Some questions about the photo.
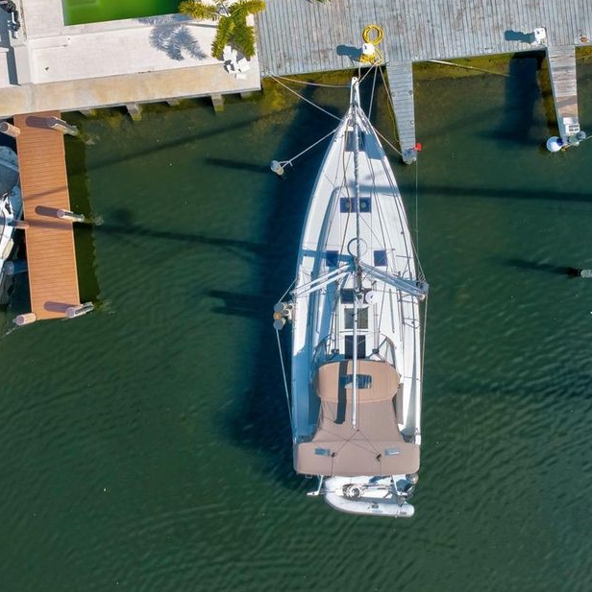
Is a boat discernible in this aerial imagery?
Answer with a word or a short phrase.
Yes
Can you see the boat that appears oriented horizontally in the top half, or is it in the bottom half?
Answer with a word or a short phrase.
bottom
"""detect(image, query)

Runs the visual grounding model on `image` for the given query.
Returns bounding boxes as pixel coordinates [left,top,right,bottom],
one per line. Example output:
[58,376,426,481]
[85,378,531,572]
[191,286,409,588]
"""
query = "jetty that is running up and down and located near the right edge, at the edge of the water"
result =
[545,43,580,138]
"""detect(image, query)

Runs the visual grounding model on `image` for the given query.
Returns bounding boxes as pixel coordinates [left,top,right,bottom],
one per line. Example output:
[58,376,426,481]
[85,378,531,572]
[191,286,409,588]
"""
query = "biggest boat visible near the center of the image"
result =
[290,78,428,496]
